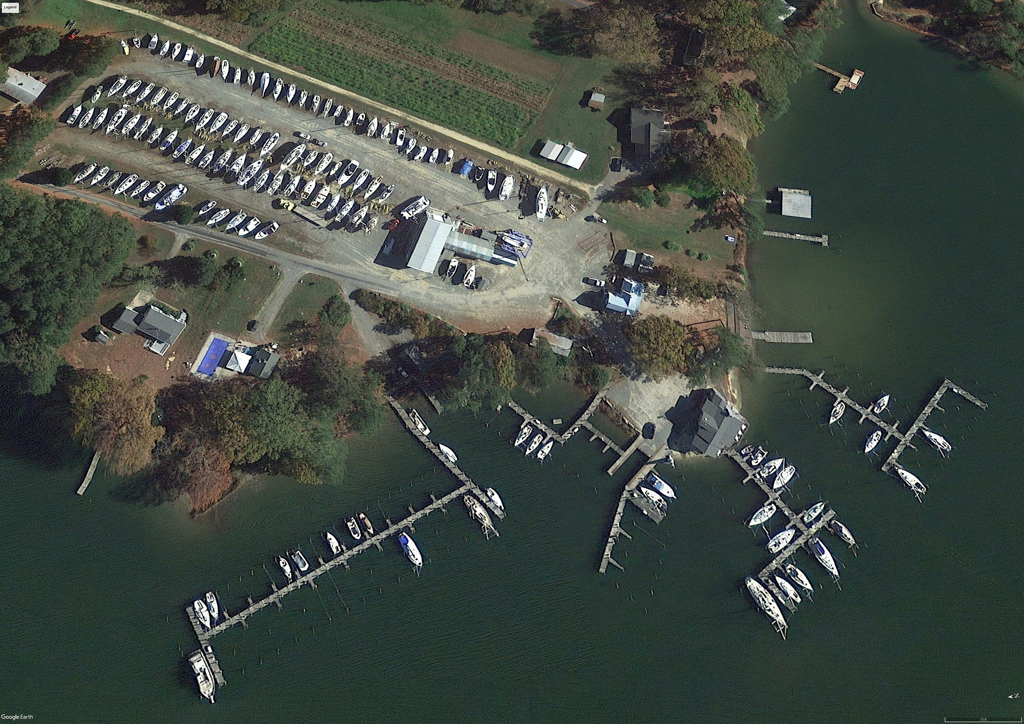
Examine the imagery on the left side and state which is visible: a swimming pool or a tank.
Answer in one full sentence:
The one visible on the left side is a swimming pool.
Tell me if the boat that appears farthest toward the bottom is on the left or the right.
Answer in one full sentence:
The boat that appears farthest toward the bottom sits on the left side.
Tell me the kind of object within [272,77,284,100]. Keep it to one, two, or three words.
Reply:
boat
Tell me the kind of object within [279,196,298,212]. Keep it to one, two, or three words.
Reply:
vehicle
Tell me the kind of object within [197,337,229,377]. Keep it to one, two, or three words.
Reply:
swimming pool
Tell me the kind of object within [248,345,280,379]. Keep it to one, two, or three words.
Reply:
building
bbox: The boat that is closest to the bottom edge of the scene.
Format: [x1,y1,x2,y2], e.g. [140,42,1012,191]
[187,648,215,704]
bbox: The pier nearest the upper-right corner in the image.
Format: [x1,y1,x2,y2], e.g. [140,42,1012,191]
[812,62,852,93]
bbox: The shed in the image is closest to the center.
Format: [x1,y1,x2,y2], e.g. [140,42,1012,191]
[535,327,572,355]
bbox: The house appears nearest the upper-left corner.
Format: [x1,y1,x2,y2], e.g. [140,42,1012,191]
[0,69,47,104]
